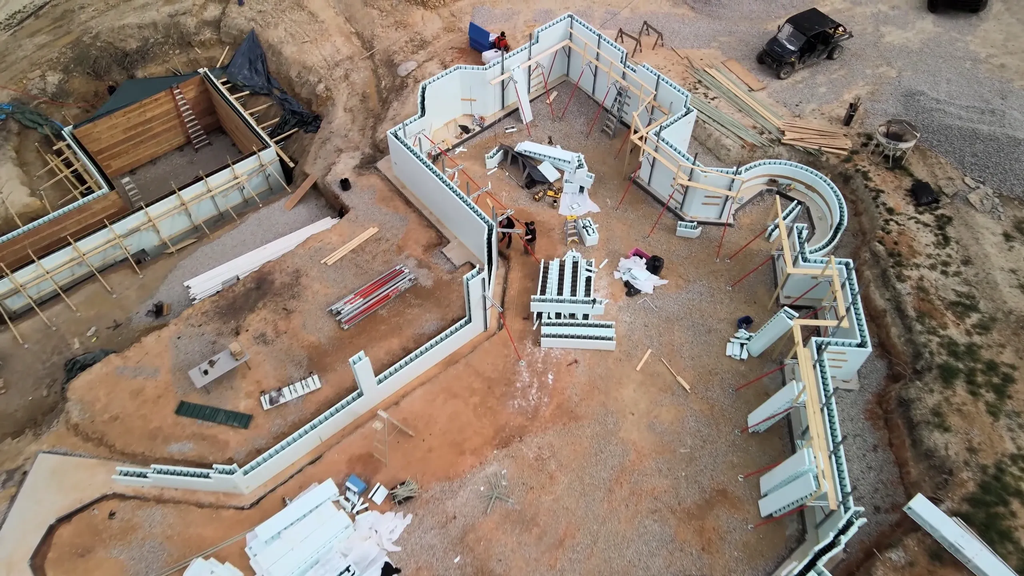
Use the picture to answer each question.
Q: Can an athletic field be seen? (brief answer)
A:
No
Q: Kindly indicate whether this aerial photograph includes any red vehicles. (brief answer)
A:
No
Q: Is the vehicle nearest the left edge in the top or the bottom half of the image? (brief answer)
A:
top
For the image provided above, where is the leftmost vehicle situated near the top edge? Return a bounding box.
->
[759,2,851,77]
